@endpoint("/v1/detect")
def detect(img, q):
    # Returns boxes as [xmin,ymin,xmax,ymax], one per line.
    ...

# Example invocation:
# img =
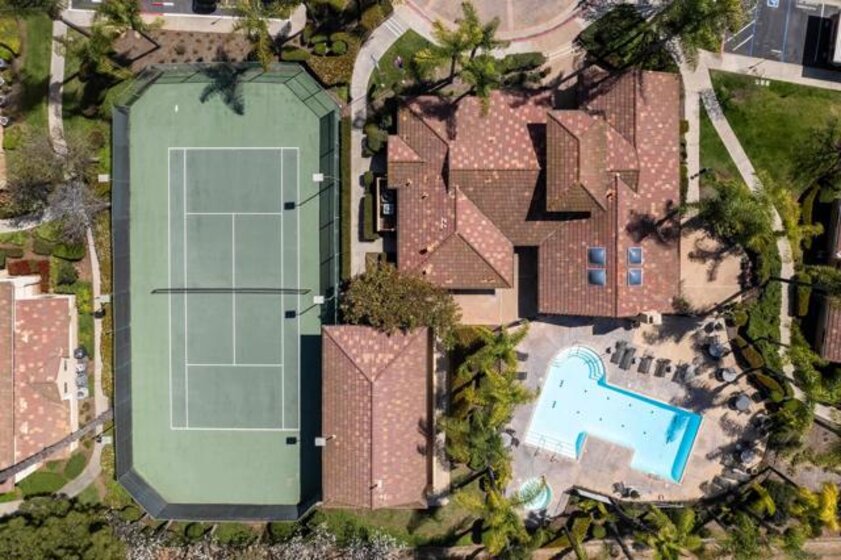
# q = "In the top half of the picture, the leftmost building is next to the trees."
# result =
[388,63,680,325]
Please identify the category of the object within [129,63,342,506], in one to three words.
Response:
tennis court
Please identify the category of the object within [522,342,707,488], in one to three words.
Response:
swimming pool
